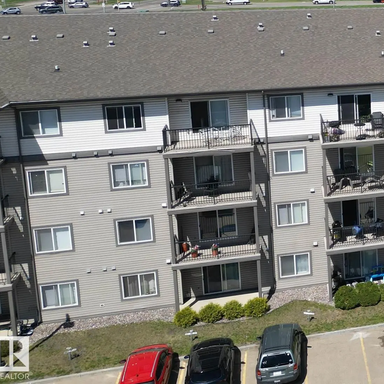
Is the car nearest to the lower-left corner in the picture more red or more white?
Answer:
red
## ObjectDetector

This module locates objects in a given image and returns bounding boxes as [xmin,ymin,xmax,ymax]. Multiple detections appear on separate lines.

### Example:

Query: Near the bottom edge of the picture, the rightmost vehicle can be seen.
[249,323,301,384]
